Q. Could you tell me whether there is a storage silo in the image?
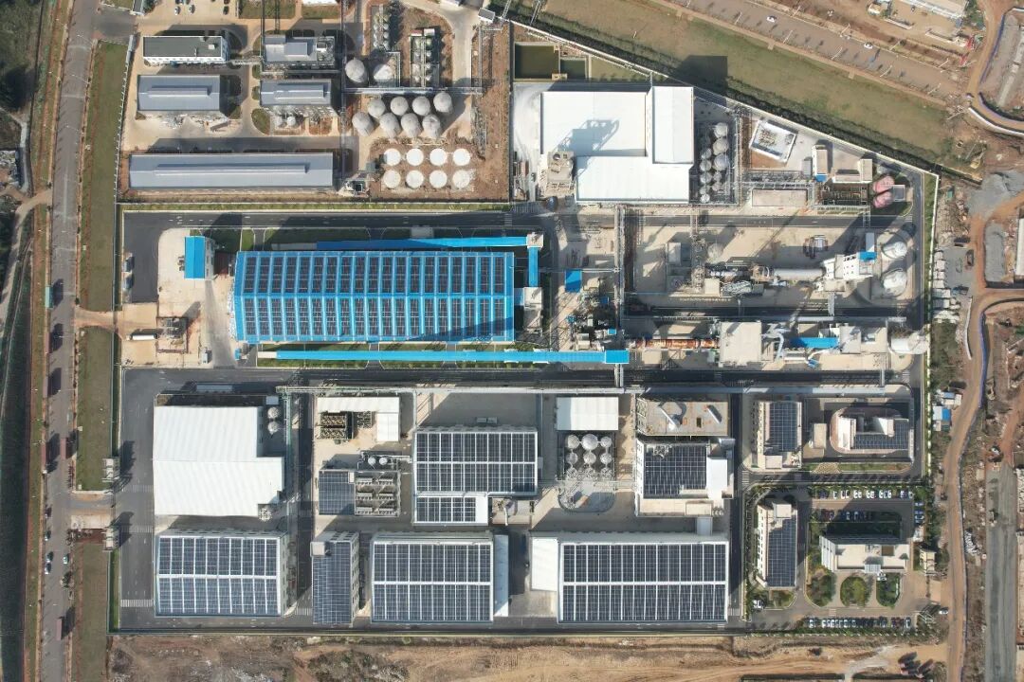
Yes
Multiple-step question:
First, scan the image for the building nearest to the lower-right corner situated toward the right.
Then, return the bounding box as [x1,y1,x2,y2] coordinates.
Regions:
[913,547,934,572]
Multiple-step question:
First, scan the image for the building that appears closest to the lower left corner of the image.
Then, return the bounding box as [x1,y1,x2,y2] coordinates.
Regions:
[103,524,122,550]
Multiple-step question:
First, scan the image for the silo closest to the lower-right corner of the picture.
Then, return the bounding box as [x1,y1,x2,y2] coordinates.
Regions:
[889,336,927,356]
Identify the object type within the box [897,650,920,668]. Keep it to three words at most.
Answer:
vehicle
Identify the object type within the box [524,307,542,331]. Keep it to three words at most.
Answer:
house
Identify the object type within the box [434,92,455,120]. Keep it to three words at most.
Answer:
silo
